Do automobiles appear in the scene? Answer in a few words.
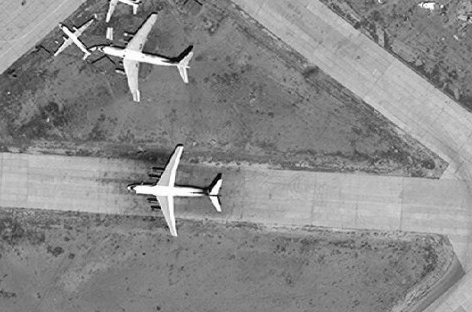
No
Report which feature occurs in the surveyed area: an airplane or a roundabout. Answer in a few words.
airplane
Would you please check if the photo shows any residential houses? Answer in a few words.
No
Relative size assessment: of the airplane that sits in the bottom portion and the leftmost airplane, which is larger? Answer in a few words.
the airplane that sits in the bottom portion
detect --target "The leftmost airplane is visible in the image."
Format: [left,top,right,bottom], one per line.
[51,17,94,59]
